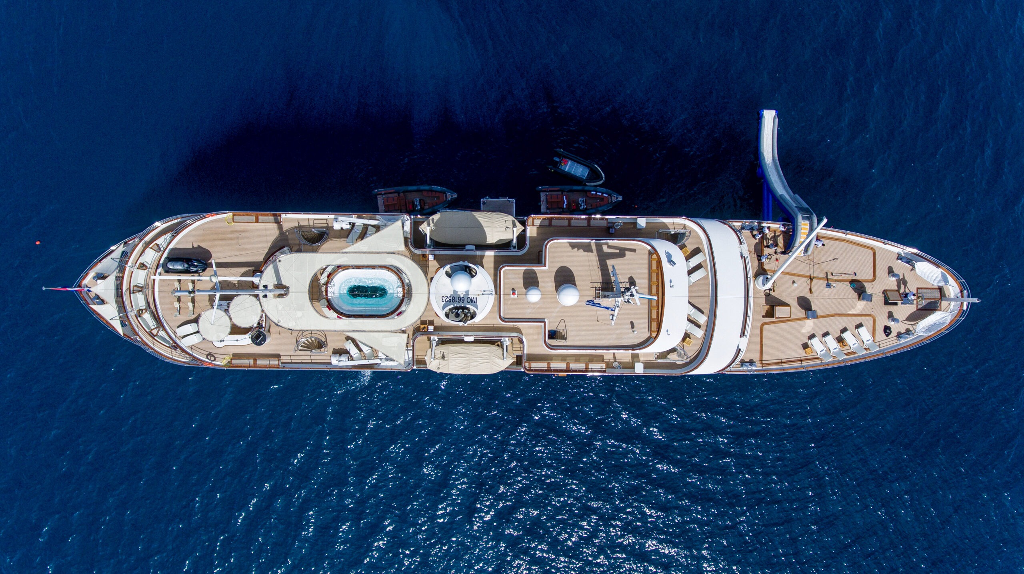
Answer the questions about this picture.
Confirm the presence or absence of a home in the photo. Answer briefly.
No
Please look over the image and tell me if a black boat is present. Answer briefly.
Yes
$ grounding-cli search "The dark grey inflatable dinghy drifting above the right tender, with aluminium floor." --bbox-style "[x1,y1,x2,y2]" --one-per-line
[544,149,607,183]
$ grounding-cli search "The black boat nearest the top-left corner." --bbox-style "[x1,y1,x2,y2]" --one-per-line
[165,257,211,273]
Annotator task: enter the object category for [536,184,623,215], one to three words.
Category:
boat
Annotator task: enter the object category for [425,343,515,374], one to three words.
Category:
boat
